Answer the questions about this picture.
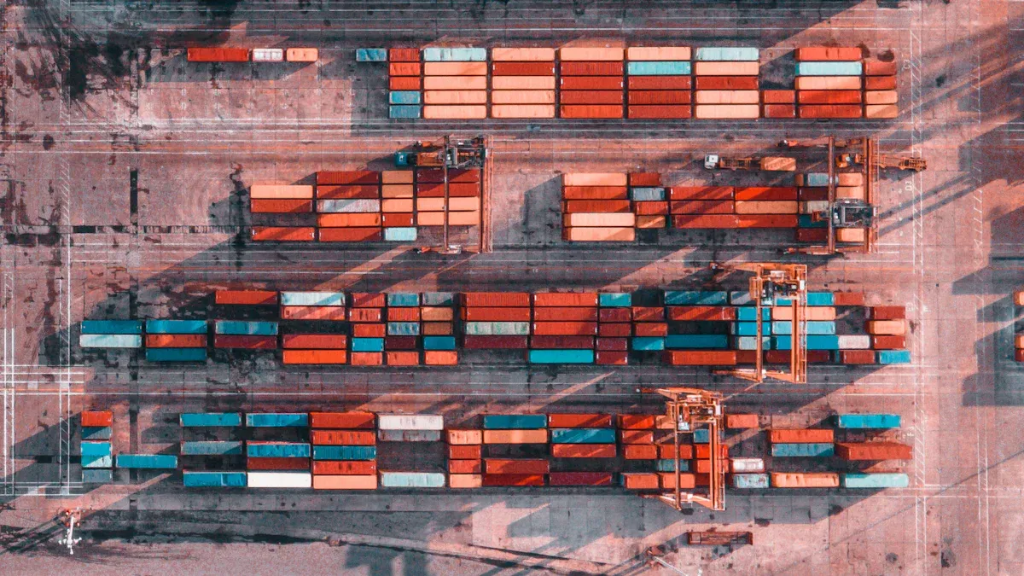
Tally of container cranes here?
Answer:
4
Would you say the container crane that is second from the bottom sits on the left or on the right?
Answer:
right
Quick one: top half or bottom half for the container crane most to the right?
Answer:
top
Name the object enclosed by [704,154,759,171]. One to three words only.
vehicle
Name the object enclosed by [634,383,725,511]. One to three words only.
container crane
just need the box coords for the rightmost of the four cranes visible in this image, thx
[782,135,879,254]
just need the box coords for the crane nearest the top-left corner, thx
[412,135,494,254]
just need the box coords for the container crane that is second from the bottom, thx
[713,261,806,383]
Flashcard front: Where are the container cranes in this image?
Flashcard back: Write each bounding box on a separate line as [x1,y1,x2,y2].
[713,261,806,383]
[782,135,879,254]
[412,135,494,254]
[634,383,725,511]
